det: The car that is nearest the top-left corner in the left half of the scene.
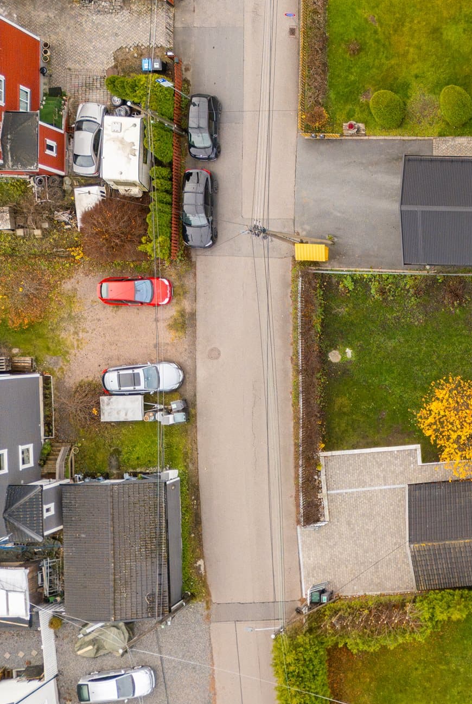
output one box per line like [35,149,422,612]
[68,103,110,179]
